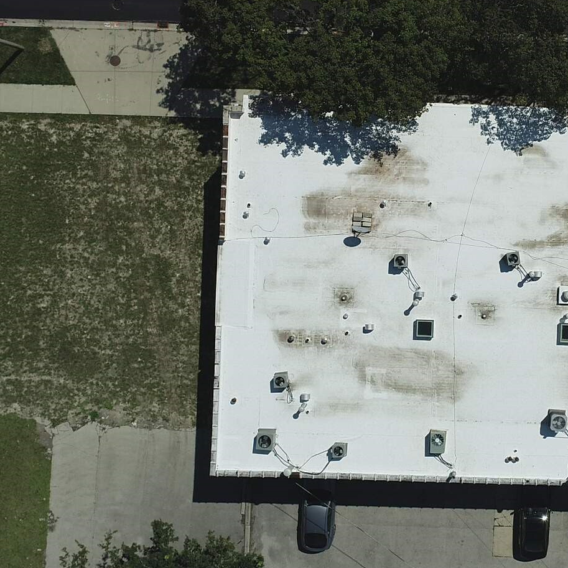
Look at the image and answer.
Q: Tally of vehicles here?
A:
two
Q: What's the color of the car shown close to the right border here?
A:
black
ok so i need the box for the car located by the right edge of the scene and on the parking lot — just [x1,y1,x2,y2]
[513,485,553,560]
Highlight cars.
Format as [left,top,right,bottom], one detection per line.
[513,485,553,560]
[300,478,338,554]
